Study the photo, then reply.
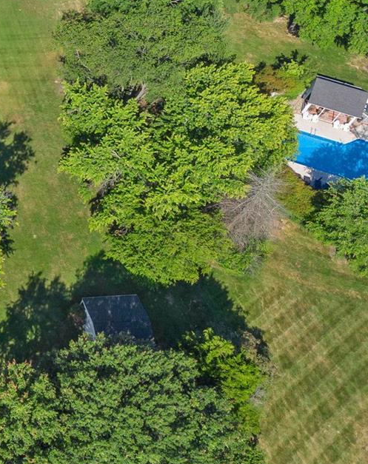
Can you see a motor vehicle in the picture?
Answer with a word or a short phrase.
No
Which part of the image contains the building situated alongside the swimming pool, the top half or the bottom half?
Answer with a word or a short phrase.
top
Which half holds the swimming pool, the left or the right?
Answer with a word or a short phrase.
right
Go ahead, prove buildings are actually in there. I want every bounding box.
[73,295,155,347]
[296,72,368,145]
